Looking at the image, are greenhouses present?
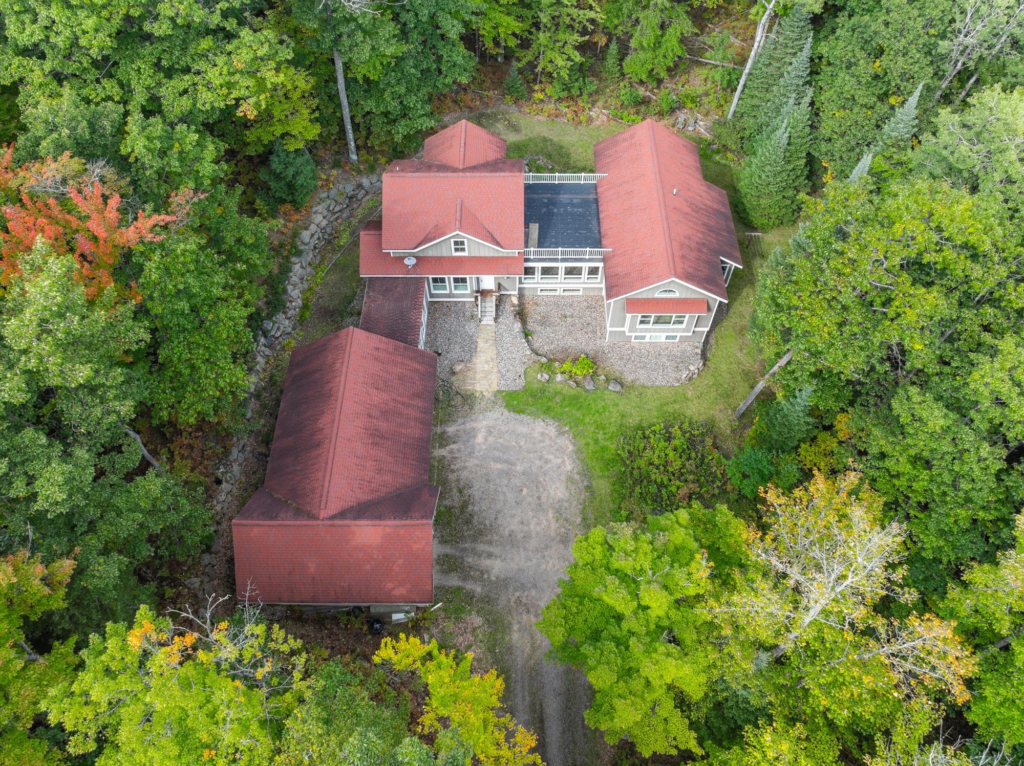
No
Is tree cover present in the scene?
Yes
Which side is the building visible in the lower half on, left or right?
left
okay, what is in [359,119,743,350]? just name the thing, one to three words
house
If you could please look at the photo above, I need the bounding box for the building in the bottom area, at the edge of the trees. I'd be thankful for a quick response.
[232,326,441,610]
